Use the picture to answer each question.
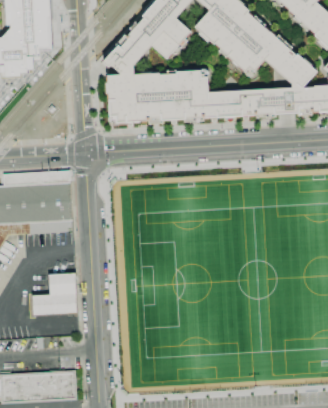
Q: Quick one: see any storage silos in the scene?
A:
No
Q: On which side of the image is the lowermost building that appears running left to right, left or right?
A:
left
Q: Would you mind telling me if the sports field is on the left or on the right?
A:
right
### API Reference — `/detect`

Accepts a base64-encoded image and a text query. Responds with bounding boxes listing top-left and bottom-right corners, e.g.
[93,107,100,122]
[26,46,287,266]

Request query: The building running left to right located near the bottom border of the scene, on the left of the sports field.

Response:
[0,370,77,403]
